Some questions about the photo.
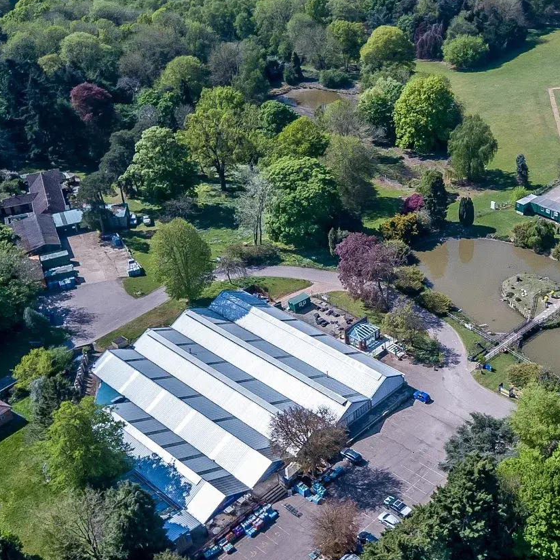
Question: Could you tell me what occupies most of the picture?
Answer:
trees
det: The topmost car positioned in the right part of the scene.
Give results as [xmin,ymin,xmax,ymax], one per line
[413,388,431,402]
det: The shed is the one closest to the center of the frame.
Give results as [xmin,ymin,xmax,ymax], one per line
[286,295,313,315]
